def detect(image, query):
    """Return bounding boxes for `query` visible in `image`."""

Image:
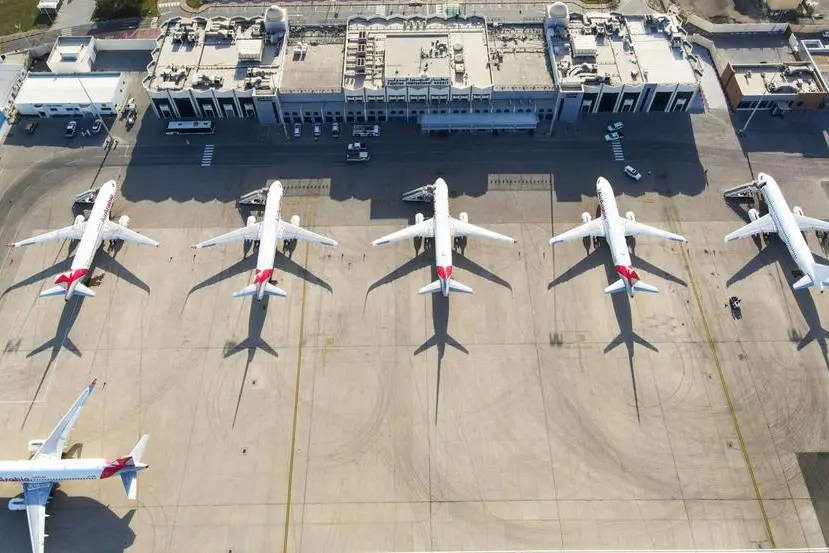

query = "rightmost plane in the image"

[725,173,829,290]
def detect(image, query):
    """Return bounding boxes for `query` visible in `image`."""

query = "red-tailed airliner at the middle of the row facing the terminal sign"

[373,178,512,297]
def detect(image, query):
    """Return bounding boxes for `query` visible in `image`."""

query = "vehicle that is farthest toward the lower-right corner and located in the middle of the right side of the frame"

[729,299,742,316]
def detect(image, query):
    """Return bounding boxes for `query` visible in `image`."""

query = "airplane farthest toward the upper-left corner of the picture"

[8,181,160,301]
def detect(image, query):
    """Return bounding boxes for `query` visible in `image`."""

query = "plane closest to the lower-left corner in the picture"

[0,382,150,553]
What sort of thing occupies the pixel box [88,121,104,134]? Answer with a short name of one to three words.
vehicle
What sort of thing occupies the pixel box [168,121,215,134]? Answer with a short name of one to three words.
vehicle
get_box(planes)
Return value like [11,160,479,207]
[549,177,687,296]
[725,173,829,290]
[196,180,337,300]
[373,178,512,297]
[8,181,160,301]
[0,382,150,553]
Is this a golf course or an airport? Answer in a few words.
airport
